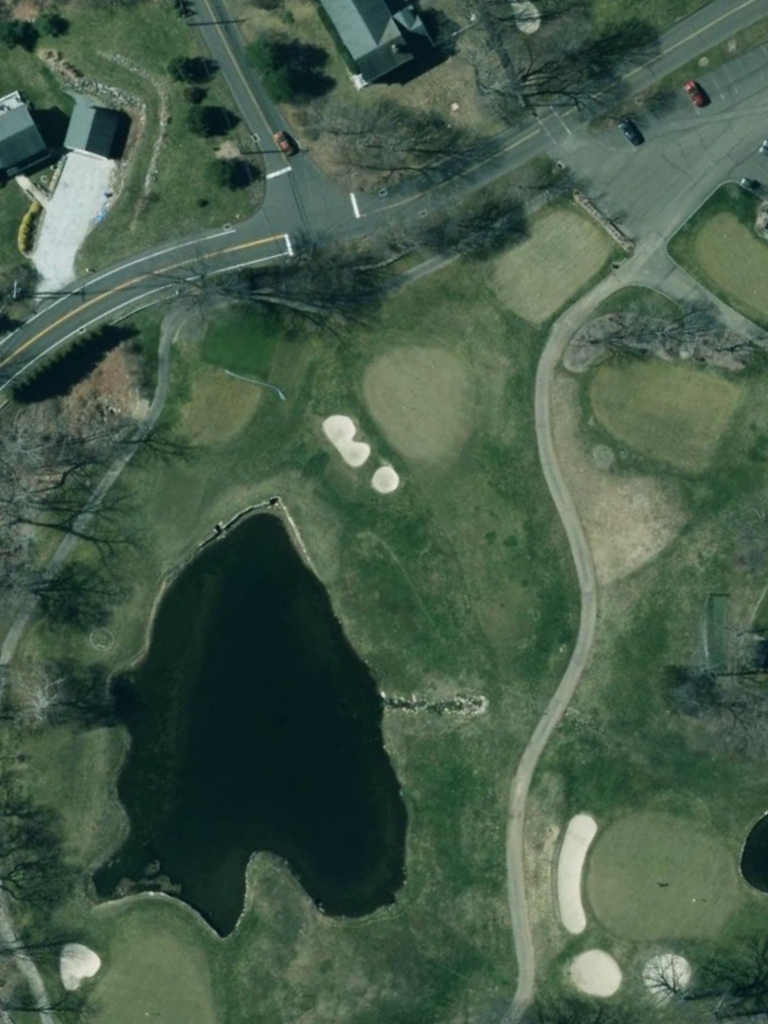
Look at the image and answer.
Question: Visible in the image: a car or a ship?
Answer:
car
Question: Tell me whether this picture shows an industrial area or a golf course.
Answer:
golf course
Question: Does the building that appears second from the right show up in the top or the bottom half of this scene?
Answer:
top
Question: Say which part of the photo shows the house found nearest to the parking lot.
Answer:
top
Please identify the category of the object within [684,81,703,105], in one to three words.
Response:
car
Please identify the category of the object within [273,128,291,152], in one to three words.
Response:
car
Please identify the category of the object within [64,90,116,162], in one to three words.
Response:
building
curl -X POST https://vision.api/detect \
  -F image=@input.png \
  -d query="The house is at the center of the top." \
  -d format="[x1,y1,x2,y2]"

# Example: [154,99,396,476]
[324,0,435,79]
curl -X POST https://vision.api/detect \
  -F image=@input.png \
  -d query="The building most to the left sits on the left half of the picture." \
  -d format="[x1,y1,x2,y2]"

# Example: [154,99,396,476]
[0,90,52,181]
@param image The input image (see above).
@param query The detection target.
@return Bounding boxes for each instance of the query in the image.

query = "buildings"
[0,90,52,181]
[64,90,116,162]
[324,0,435,79]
